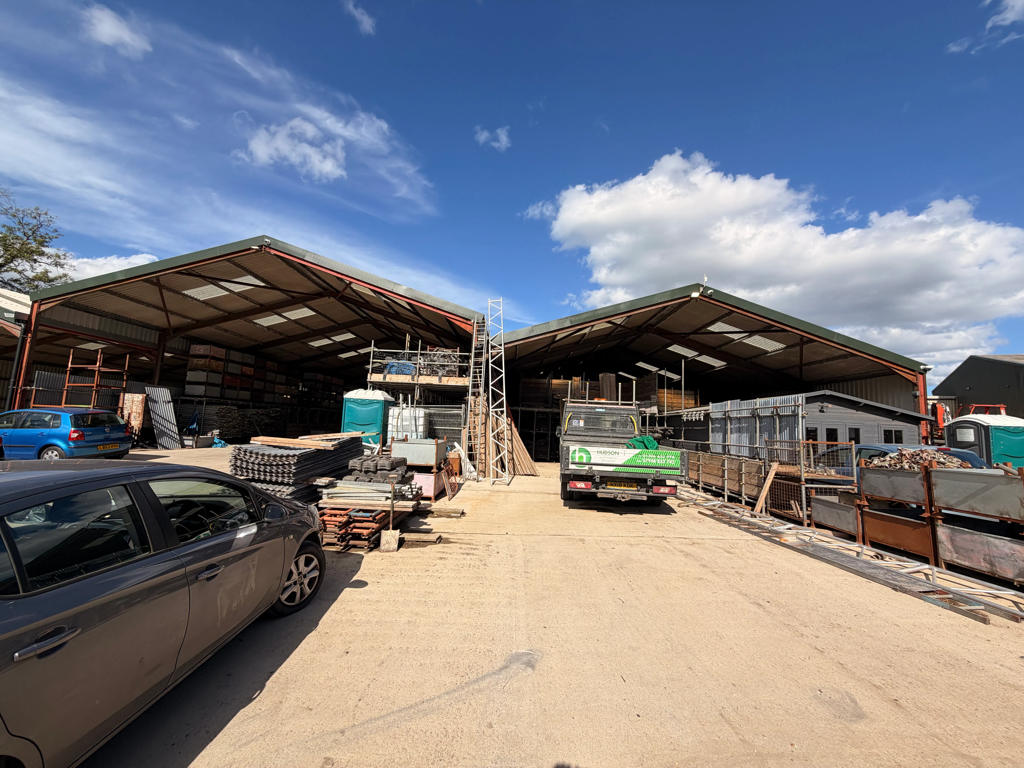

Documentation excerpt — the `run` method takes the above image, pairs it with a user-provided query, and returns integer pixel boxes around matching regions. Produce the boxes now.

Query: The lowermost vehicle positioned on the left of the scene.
[0,446,324,768]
